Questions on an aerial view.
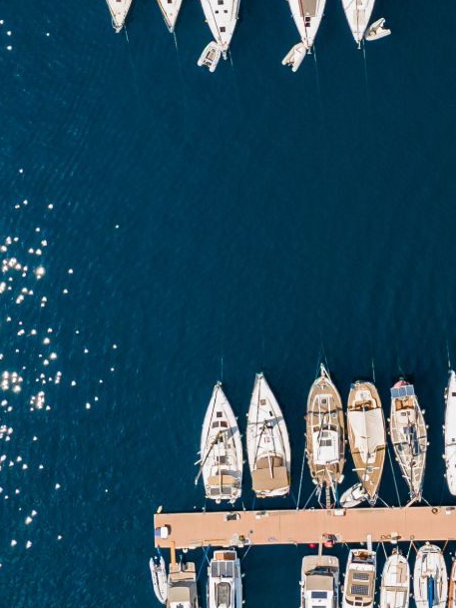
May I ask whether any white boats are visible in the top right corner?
Yes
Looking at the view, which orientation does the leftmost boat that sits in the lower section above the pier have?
vertically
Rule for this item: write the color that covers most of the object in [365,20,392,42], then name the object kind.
white boat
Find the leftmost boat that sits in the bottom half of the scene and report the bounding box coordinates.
[148,558,167,604]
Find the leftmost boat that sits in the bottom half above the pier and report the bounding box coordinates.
[194,376,246,508]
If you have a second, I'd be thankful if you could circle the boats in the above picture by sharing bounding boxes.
[199,41,221,72]
[283,43,305,72]
[245,367,297,508]
[440,366,456,505]
[202,0,240,59]
[297,360,348,515]
[344,369,399,510]
[386,370,432,509]
[377,540,413,608]
[365,20,392,42]
[339,483,368,509]
[340,535,379,608]
[158,540,210,608]
[297,534,344,608]
[286,0,325,57]
[194,376,246,508]
[148,558,167,604]
[411,541,449,608]
[339,0,375,53]
[203,546,251,608]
